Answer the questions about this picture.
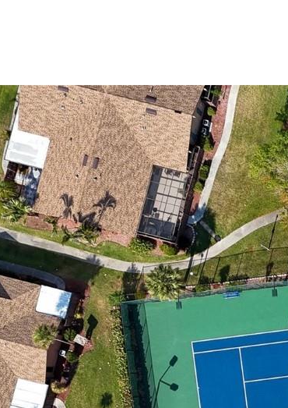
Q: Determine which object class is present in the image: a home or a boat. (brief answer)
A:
home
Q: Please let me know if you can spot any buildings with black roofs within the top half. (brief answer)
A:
No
